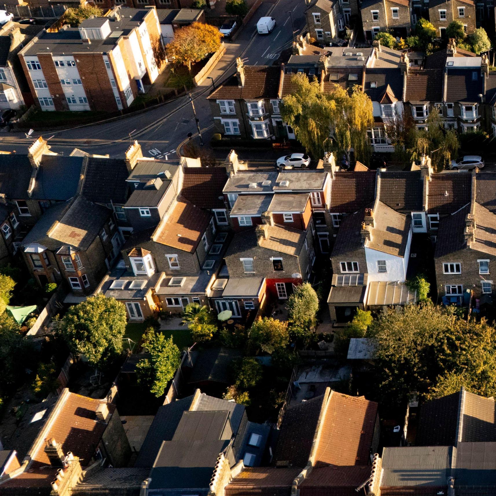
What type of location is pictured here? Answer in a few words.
residential area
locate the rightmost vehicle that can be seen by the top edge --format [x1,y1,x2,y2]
[257,15,276,33]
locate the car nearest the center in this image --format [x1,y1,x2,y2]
[277,151,313,168]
